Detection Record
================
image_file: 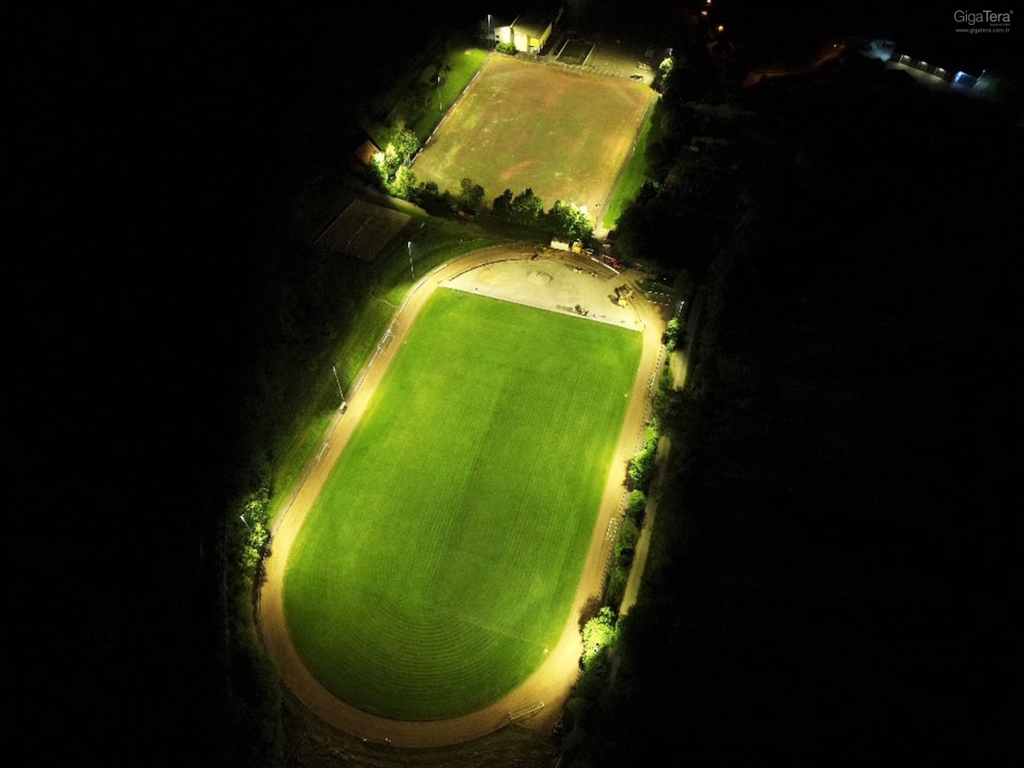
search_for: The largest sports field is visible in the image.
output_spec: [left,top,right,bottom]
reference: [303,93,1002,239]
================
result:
[284,287,641,721]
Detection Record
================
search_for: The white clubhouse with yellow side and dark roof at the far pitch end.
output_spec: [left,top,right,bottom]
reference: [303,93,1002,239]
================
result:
[495,9,552,52]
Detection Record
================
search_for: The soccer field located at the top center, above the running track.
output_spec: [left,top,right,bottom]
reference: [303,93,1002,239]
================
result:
[407,52,657,225]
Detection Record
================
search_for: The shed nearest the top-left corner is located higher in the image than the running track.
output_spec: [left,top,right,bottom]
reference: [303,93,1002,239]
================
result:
[345,141,377,165]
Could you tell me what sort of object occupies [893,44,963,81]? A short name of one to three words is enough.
building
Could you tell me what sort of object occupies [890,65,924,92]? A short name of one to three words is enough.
house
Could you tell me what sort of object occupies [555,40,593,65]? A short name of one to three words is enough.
sports court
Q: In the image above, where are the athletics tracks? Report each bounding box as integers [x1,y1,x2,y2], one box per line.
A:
[259,249,661,751]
